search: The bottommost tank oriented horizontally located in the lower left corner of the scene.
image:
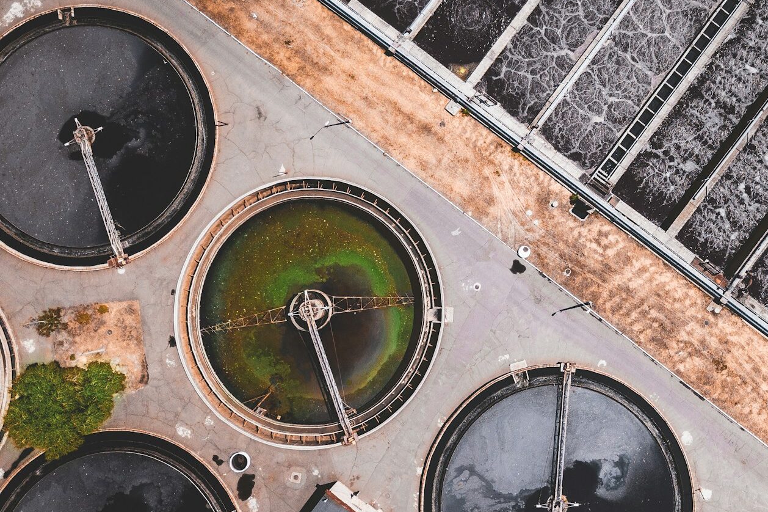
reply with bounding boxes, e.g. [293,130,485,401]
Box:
[0,427,242,512]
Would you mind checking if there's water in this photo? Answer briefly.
Yes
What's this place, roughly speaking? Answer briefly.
industrial area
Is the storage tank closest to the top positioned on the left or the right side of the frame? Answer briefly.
left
